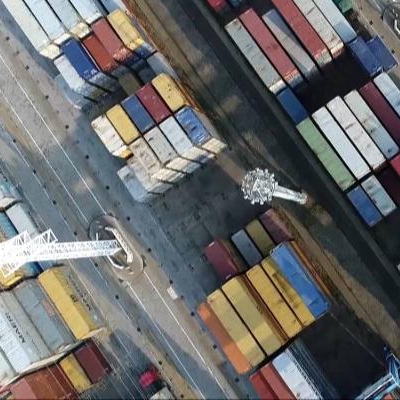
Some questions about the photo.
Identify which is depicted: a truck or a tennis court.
truck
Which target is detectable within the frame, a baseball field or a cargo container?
cargo container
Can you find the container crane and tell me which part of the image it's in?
bottom right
